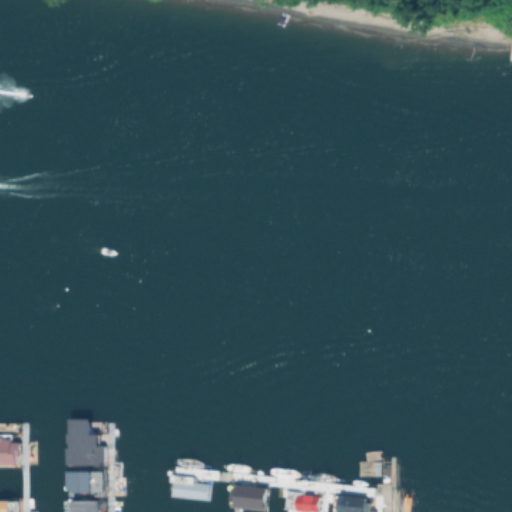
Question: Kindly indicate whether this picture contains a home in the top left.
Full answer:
No, looking in the top left, there is no home.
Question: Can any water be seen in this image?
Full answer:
Yes, there's water in this view.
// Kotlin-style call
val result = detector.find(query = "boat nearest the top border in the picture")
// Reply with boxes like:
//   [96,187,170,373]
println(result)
[277,12,290,28]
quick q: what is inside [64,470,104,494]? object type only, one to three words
house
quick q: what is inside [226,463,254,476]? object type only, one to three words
boat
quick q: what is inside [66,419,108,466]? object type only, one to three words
house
